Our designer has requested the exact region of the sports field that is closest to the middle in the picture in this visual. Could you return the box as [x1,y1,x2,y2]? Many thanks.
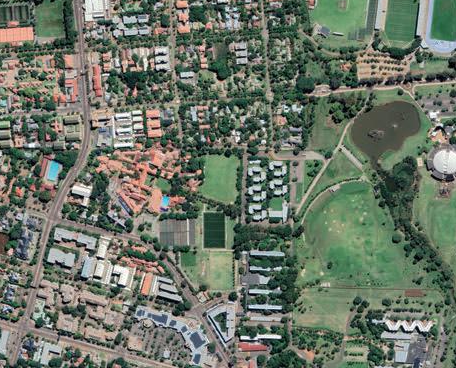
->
[202,154,239,203]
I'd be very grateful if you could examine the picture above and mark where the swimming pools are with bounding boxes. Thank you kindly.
[162,196,170,206]
[45,158,62,183]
